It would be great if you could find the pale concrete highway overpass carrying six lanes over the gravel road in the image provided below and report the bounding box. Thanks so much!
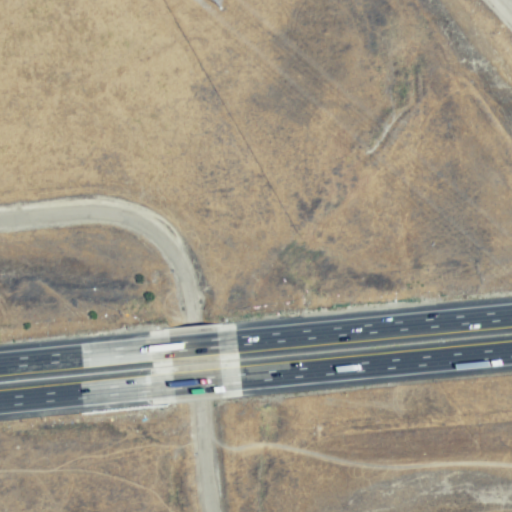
[150,320,243,404]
